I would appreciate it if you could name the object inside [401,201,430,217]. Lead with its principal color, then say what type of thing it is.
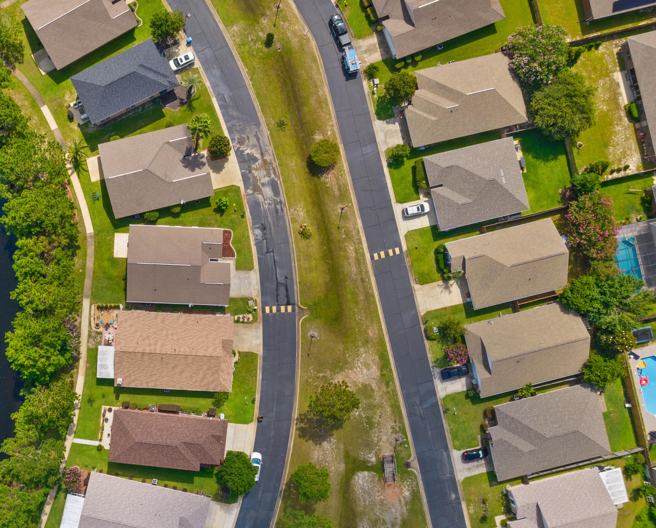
white car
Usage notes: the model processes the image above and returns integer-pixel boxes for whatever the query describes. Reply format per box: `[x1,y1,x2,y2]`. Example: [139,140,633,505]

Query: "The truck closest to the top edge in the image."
[330,14,352,48]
